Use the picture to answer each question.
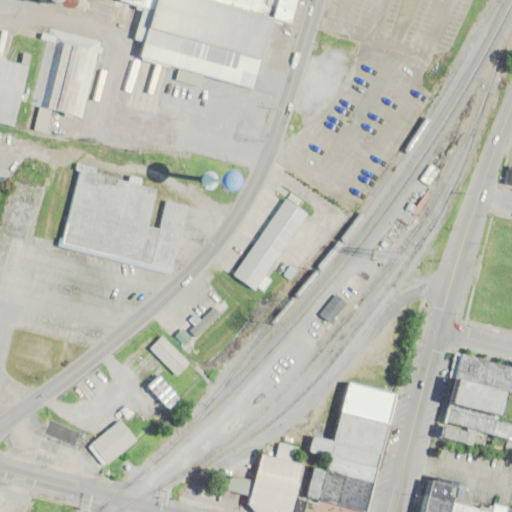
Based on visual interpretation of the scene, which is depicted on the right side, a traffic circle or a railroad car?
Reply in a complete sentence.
It is a railroad car that can be seen on the right side.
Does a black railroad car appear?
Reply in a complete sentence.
No, the frame has no black railroad car in it.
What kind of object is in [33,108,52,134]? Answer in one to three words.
shed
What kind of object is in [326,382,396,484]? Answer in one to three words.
building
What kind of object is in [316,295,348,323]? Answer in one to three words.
shed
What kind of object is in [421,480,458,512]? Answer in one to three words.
building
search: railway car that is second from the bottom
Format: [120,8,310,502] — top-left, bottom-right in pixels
[294,271,318,298]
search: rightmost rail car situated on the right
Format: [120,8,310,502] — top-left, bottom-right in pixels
[405,120,430,152]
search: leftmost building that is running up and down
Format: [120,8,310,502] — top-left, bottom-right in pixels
[0,54,32,128]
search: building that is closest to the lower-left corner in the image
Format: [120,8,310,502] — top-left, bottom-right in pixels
[88,420,137,468]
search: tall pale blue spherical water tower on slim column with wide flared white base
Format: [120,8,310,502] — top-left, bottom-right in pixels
[202,169,242,190]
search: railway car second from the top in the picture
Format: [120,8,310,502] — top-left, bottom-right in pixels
[339,214,363,242]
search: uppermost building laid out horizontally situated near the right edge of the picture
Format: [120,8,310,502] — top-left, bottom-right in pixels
[450,354,512,394]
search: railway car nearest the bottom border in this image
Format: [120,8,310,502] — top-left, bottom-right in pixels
[270,298,296,325]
